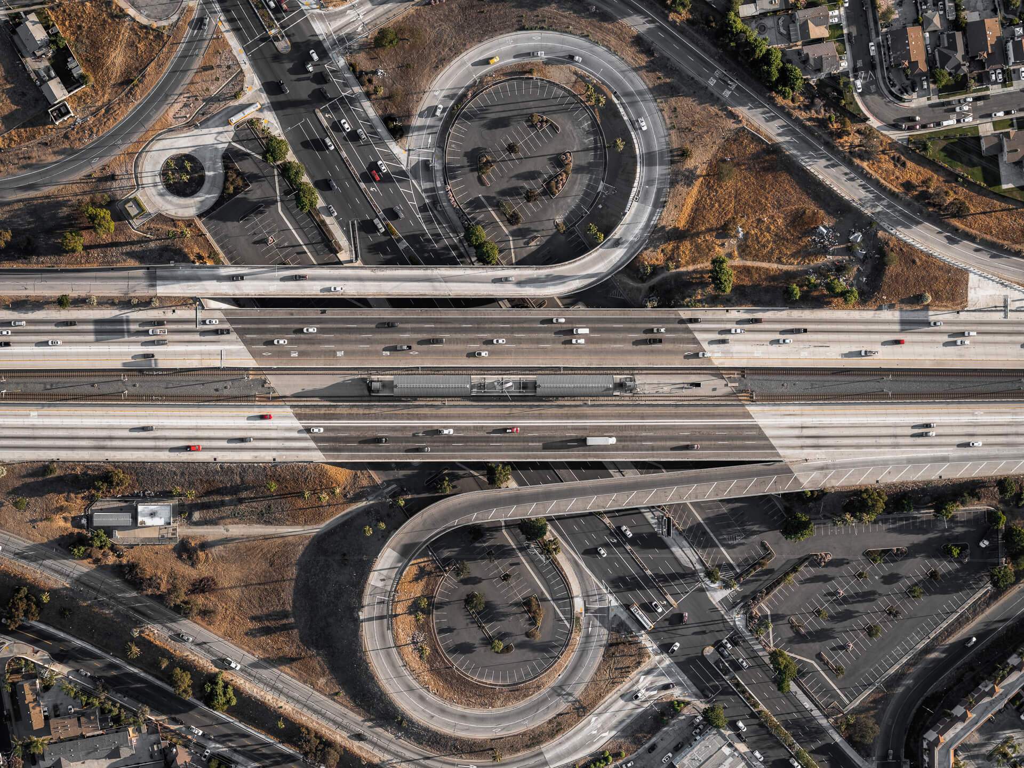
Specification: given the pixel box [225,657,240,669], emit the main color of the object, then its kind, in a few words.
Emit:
white vehicle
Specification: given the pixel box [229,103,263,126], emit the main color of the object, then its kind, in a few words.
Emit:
white bus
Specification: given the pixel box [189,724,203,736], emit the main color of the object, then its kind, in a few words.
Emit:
white vehicle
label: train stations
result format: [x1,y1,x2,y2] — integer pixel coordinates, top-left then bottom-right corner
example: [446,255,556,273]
[369,375,636,400]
